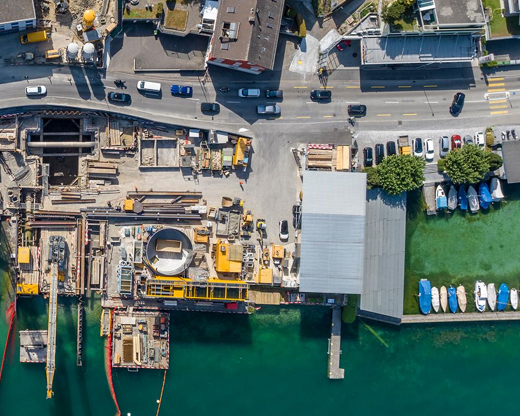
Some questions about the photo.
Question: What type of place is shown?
port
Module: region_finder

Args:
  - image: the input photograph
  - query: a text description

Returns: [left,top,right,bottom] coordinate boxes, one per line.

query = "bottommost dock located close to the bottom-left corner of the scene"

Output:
[19,330,48,361]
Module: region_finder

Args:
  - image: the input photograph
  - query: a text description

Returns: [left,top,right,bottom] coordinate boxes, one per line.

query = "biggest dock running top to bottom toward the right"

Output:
[328,306,344,378]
